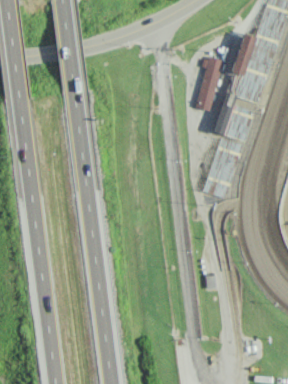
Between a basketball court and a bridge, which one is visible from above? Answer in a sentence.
I can see a bridge in this picture.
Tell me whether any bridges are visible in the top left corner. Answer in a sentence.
Yes, in the top left corner there is a bridge.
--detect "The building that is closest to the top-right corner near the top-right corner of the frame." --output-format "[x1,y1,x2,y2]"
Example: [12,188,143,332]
[231,34,254,76]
